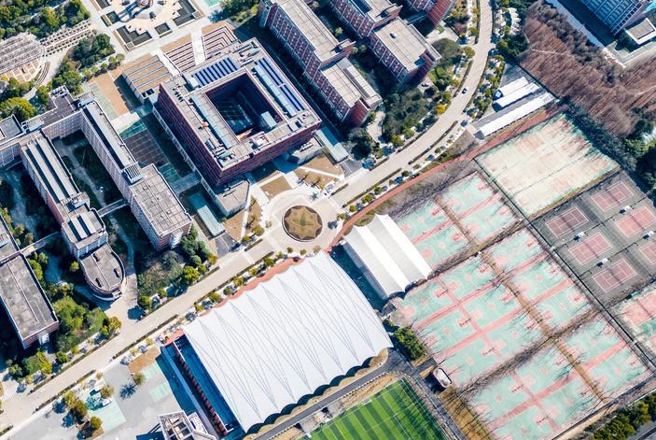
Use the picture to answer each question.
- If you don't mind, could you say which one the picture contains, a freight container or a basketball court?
basketball court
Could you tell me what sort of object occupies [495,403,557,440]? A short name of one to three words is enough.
basketball court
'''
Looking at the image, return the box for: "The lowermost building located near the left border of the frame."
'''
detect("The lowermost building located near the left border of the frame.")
[0,88,191,348]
